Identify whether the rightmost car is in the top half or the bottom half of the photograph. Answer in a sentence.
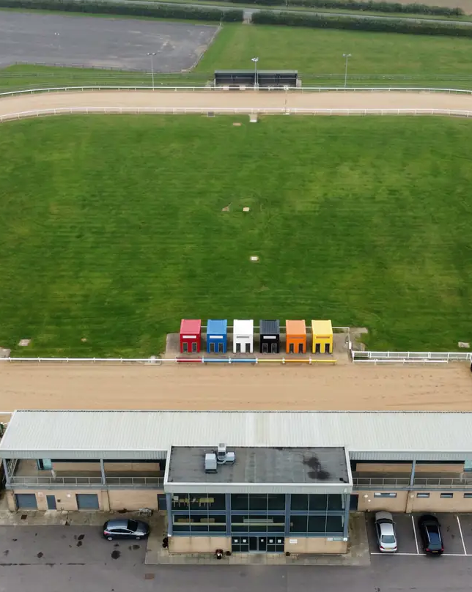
Seen from above, the rightmost car lies in the bottom half of the view.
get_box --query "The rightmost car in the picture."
[420,514,445,551]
